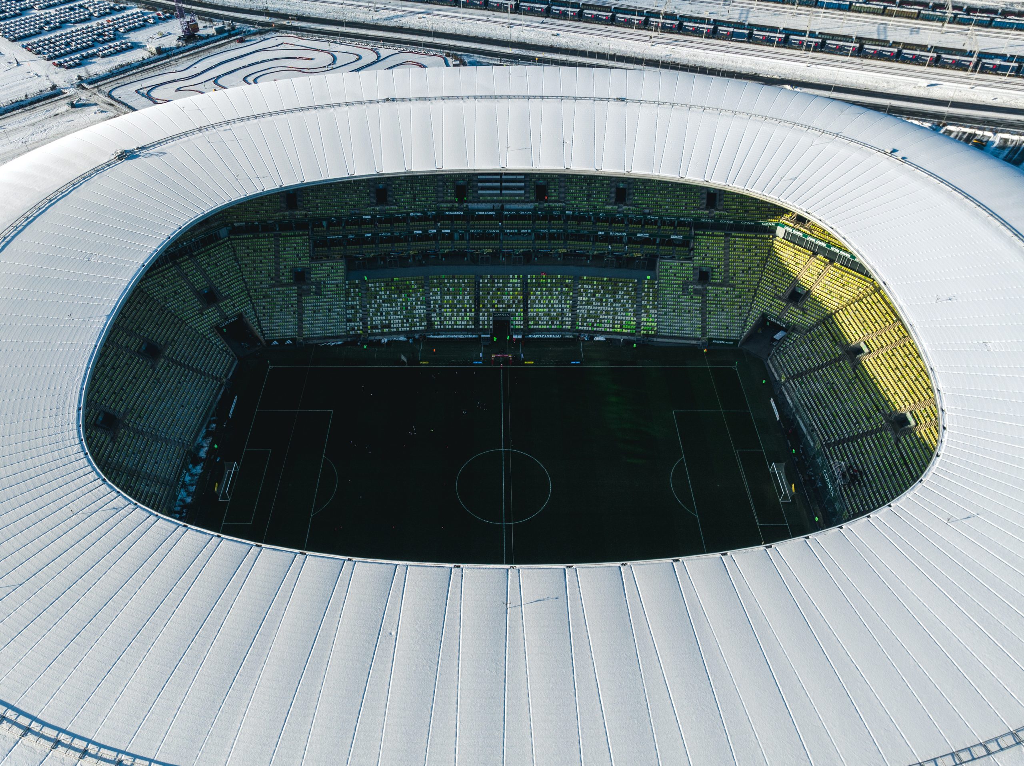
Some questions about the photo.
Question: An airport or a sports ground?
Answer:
sports ground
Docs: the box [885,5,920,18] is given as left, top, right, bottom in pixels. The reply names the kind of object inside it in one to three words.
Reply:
rail car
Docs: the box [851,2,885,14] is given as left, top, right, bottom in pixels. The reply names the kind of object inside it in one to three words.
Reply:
rail car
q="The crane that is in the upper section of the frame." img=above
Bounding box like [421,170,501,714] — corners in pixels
[167,0,204,43]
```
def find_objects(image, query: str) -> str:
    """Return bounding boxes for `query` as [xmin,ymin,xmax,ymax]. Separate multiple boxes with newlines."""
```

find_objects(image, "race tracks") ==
[107,35,451,110]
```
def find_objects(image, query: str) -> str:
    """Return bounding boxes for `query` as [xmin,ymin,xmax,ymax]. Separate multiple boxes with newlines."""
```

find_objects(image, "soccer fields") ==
[168,316,841,565]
